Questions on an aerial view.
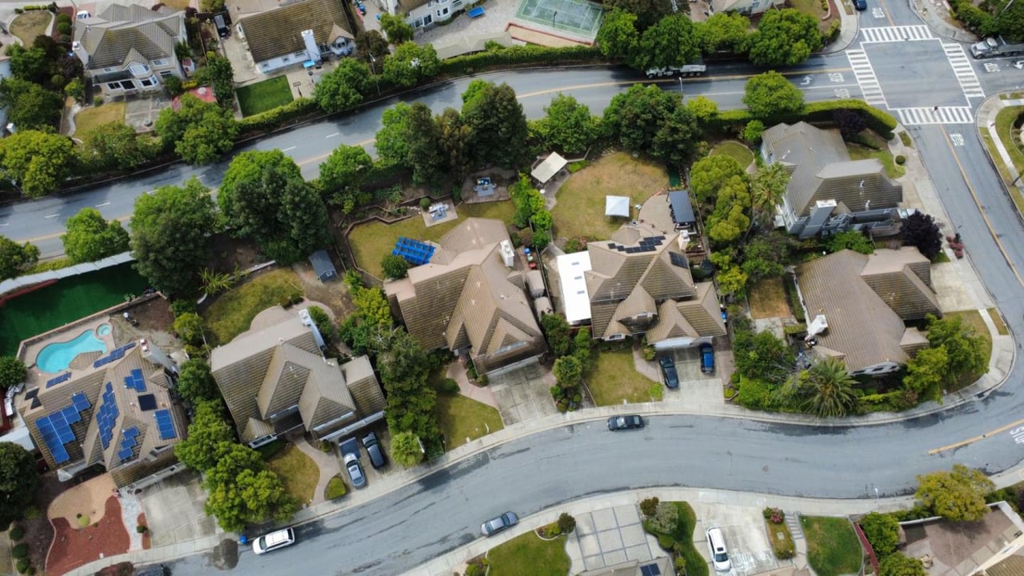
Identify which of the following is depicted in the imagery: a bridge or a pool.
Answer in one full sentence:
Visible in the photo is a pool.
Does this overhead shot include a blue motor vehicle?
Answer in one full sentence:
Yes, the frame does contain a blue motor vehicle.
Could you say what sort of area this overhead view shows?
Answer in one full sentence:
The picture captures a residential area.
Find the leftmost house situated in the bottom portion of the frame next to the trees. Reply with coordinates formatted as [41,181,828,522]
[17,337,189,490]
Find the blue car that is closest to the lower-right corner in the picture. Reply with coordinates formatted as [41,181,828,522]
[700,344,716,375]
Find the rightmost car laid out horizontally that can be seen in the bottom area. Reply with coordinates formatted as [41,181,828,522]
[607,414,645,432]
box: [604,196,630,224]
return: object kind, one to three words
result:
tent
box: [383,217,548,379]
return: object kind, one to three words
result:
house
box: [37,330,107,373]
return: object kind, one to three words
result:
swimming pool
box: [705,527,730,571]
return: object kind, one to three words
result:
car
